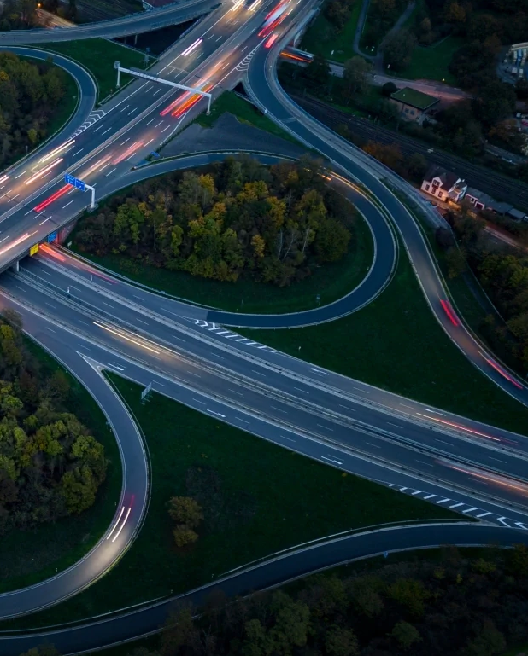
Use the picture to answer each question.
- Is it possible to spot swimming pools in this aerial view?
No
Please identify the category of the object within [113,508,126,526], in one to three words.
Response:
vehicle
